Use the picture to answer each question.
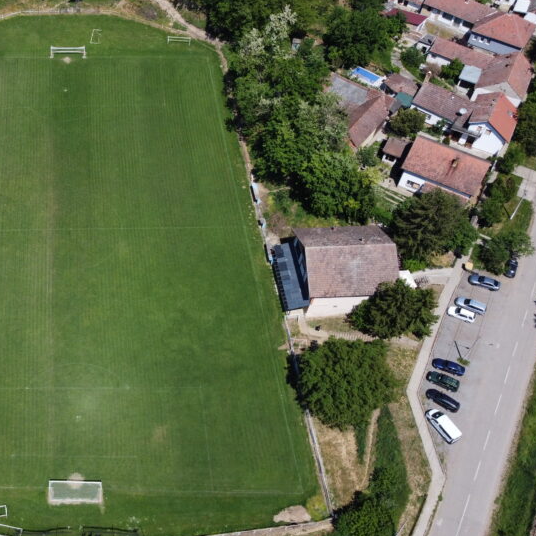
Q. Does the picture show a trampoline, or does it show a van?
van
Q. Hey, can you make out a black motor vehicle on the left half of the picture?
No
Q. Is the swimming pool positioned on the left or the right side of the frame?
right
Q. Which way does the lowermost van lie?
diagonally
